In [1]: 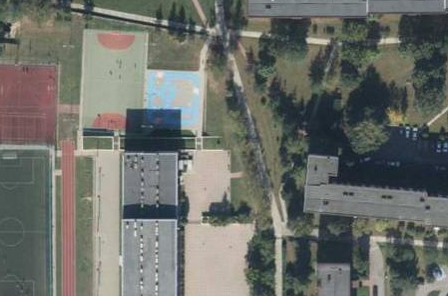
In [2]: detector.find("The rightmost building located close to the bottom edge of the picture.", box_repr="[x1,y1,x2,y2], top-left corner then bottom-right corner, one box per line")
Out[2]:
[318,262,352,296]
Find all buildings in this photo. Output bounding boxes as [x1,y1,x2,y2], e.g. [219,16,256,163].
[318,262,352,296]
[303,155,448,227]
[246,0,448,19]
[119,153,185,296]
